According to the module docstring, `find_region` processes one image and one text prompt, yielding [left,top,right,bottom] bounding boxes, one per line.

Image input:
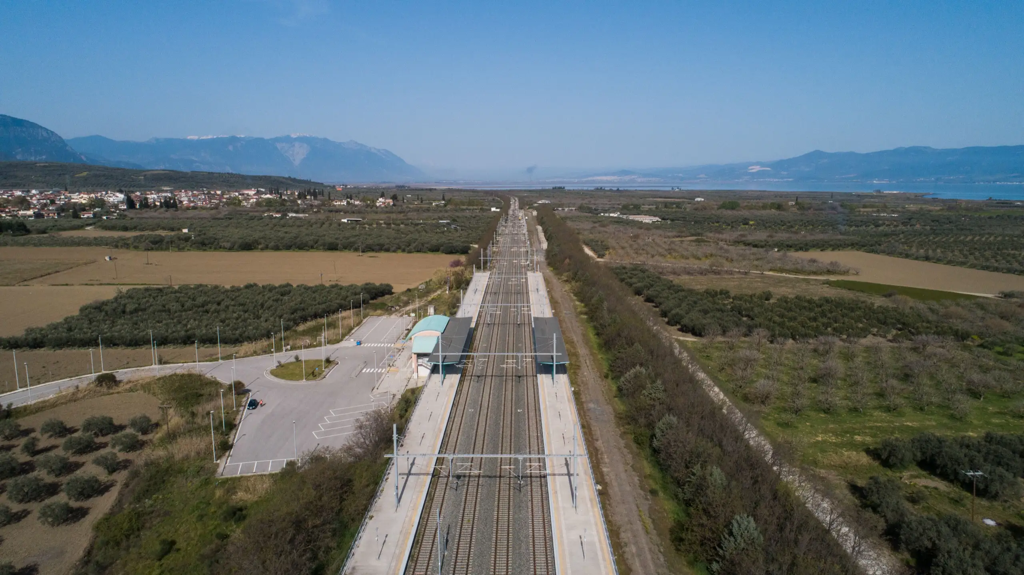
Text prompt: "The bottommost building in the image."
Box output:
[405,315,450,379]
